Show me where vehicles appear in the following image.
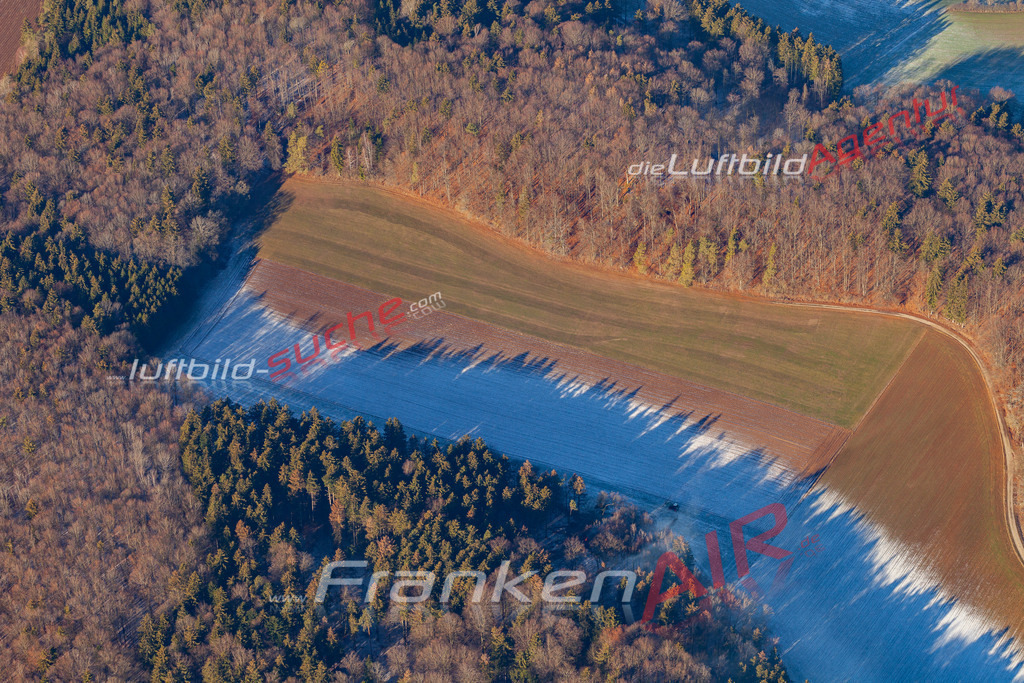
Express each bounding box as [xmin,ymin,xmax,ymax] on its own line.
[664,500,679,512]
